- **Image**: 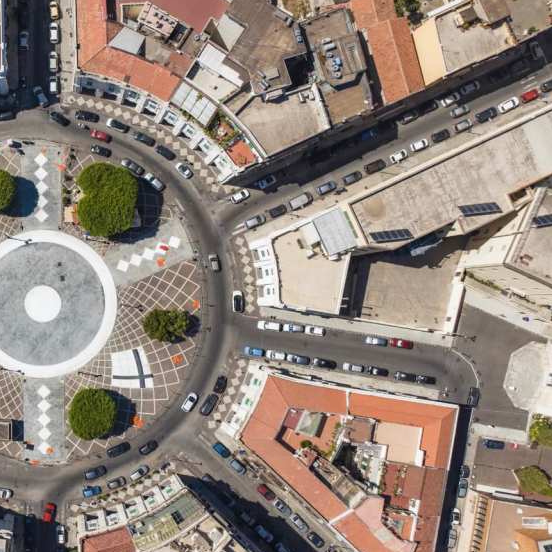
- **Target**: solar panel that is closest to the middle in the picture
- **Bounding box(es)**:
[371,228,413,242]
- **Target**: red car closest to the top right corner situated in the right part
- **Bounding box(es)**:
[518,88,539,103]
